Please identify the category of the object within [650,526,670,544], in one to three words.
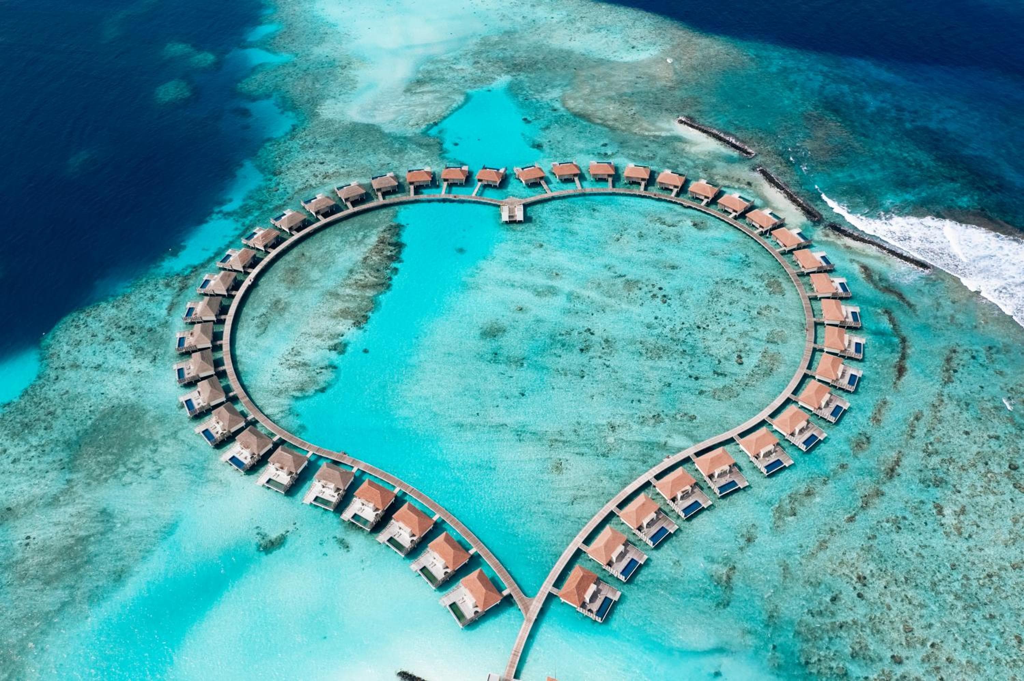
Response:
swimming pool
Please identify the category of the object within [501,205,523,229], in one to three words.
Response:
building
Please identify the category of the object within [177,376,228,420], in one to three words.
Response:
house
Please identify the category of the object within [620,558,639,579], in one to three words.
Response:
swimming pool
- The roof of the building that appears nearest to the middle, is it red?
No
